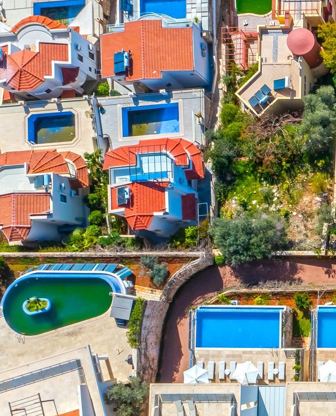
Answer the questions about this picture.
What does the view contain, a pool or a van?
pool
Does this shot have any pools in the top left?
Yes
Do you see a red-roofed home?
Yes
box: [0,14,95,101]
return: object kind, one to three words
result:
house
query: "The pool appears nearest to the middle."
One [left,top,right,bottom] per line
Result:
[115,97,185,143]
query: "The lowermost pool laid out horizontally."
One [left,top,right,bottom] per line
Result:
[193,305,292,350]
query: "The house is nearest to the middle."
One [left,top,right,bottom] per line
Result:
[102,137,206,234]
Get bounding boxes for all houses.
[0,150,90,246]
[100,11,211,93]
[286,378,336,416]
[0,345,128,416]
[0,14,95,101]
[150,379,259,416]
[235,0,336,123]
[102,137,206,234]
